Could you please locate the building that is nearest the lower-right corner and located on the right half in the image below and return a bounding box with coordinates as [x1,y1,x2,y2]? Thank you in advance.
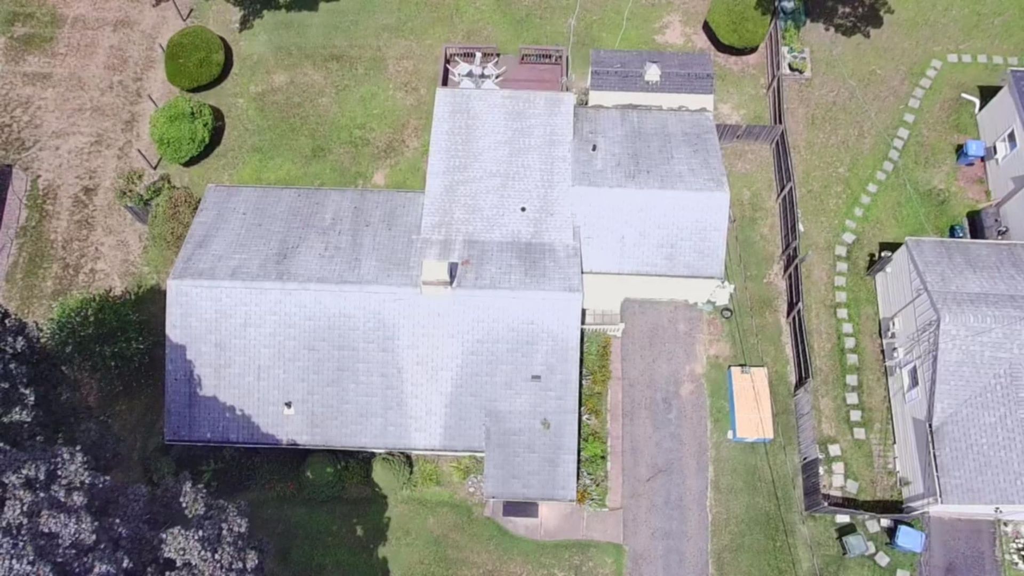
[880,236,1024,519]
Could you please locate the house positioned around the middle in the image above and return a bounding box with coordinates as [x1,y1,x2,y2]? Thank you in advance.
[163,87,729,505]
